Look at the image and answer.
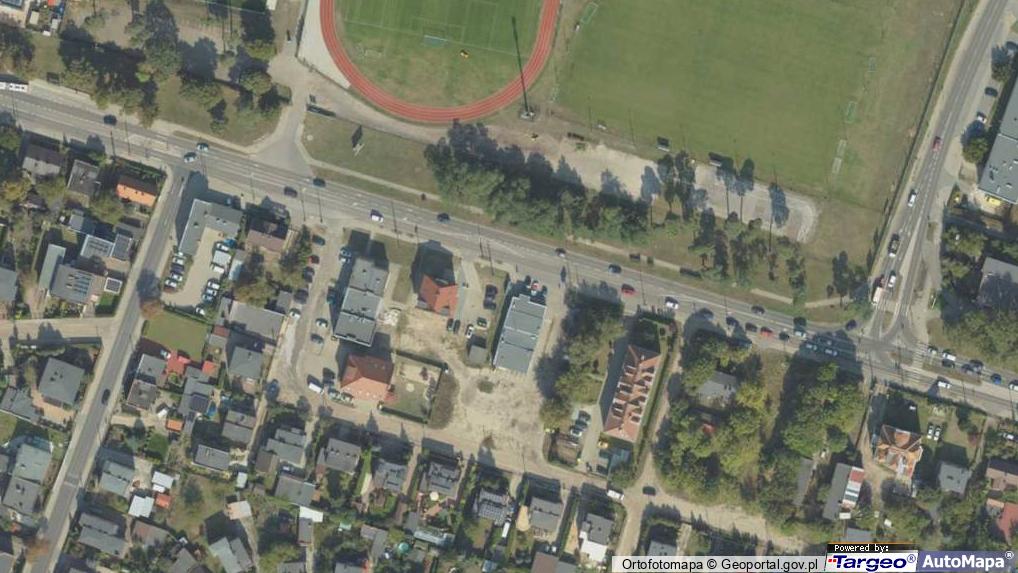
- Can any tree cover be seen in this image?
Yes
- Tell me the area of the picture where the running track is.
top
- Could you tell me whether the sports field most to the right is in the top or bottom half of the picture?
top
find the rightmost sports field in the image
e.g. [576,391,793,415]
[560,0,885,194]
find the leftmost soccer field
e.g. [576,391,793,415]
[345,0,544,60]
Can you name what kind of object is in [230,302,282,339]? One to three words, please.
building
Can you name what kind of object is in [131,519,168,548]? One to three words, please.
shed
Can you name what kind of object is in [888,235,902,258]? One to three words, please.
vehicle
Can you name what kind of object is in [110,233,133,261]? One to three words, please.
house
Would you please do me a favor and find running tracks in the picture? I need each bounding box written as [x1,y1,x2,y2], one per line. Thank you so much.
[320,0,562,124]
